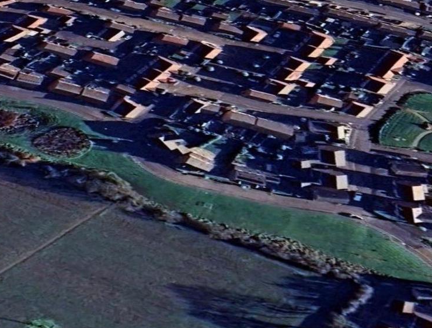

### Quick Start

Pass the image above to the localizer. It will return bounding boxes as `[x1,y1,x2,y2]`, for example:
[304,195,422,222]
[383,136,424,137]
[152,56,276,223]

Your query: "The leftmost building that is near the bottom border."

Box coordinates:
[389,302,415,320]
